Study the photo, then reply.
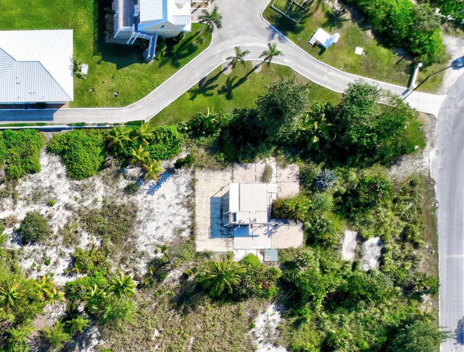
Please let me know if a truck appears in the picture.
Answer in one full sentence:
No, this view has no truck in it.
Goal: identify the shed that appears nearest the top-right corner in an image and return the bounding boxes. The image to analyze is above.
[310,27,339,49]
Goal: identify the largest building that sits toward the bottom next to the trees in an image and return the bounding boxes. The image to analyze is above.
[205,183,277,252]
